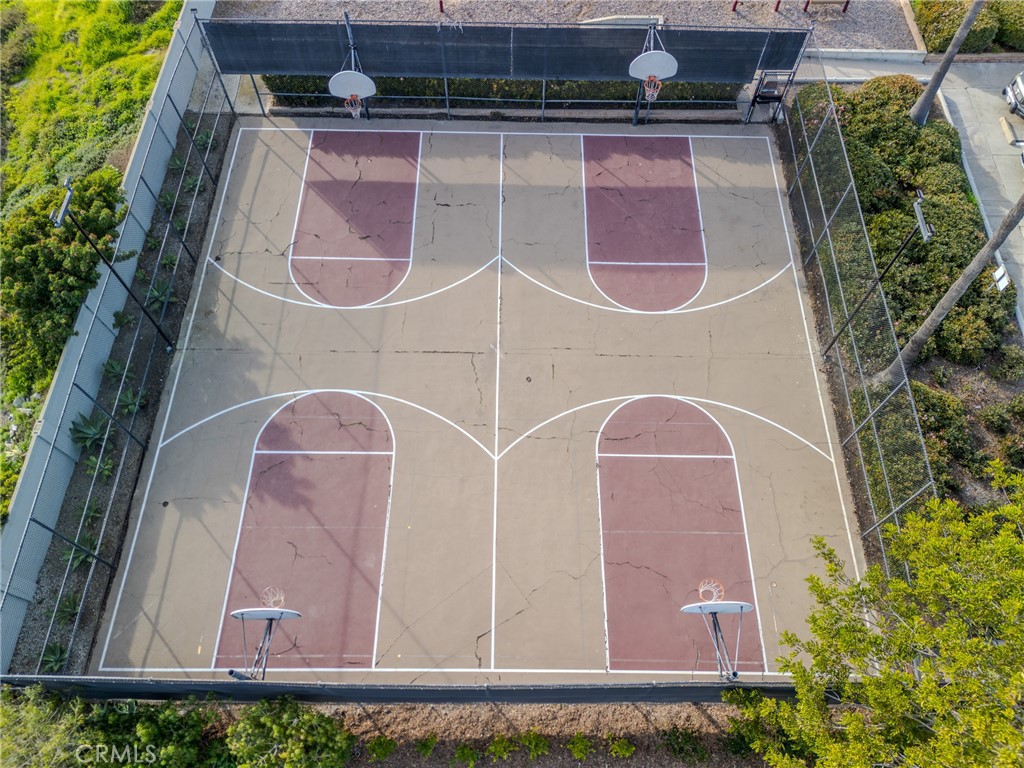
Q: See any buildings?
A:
No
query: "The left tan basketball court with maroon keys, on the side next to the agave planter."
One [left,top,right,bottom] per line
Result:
[79,116,503,689]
